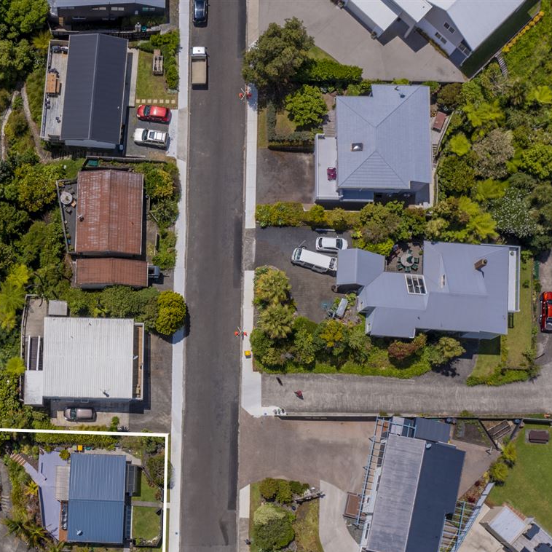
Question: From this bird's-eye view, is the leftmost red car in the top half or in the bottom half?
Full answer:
The top half of the photo is where the leftmost red car is.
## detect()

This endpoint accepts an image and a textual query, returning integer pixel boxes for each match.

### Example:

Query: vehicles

[293,247,336,274]
[312,234,349,252]
[136,103,171,122]
[64,405,96,423]
[132,126,170,148]
[189,44,208,90]
[537,290,552,334]
[192,0,209,25]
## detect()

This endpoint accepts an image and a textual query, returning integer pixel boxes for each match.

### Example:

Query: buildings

[54,452,136,544]
[355,240,521,338]
[358,417,465,552]
[417,0,522,66]
[313,83,455,201]
[75,258,149,286]
[40,32,129,149]
[480,501,529,546]
[340,0,400,35]
[74,170,144,254]
[24,316,144,405]
[47,0,166,35]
